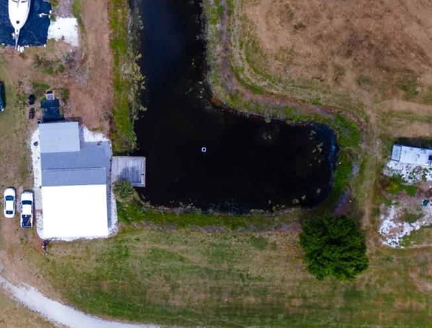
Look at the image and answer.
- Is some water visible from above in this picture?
Yes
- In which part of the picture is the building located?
left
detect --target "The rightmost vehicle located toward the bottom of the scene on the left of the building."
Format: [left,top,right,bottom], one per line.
[19,190,35,229]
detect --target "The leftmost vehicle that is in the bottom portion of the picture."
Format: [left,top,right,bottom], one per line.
[2,187,16,219]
